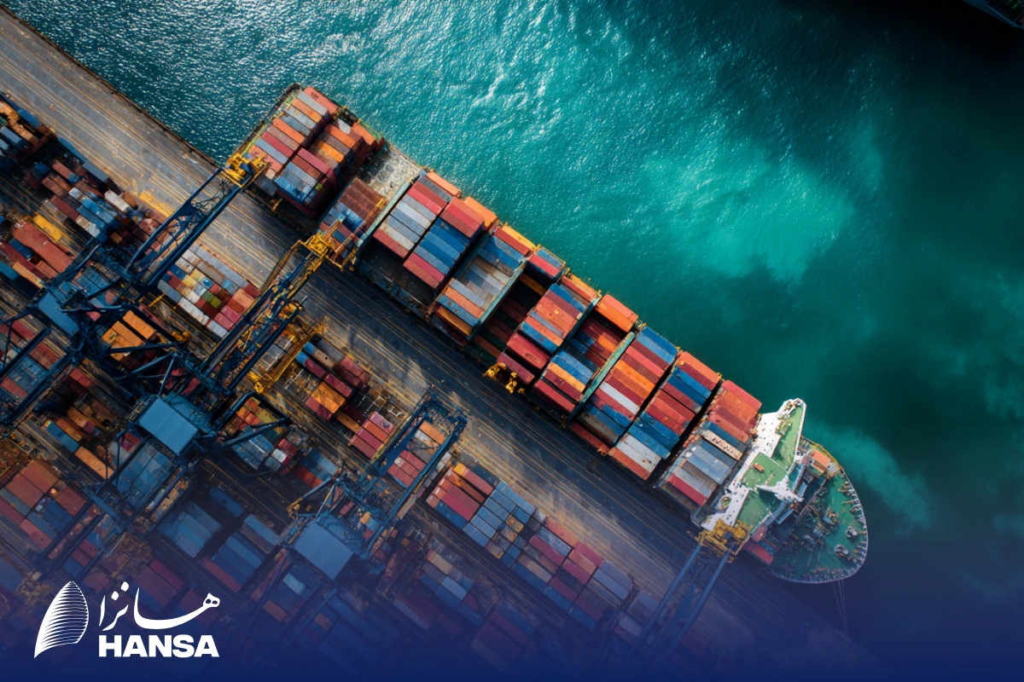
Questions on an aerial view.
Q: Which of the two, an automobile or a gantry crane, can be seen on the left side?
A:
gantry crane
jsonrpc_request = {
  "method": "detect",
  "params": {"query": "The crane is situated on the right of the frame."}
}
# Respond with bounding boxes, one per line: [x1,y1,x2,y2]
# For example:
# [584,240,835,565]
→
[560,508,749,682]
